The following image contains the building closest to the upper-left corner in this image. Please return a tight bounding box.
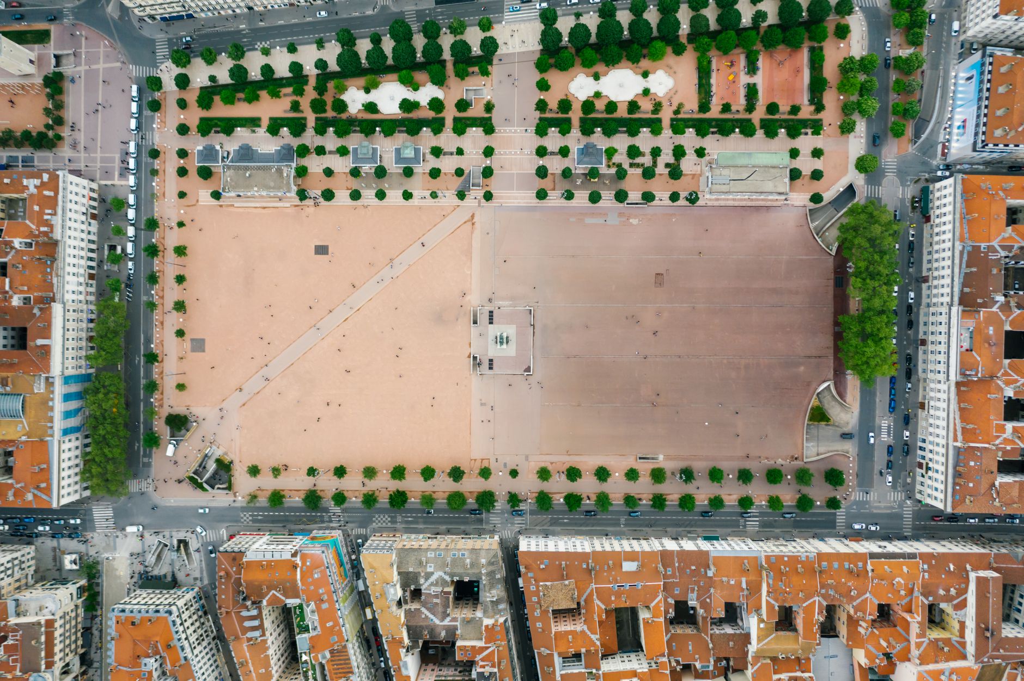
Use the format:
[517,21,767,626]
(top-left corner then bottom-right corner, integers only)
[0,34,36,75]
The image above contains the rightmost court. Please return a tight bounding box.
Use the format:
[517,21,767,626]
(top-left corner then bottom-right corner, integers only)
[763,47,804,104]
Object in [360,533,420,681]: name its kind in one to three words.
building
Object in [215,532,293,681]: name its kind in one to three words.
building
